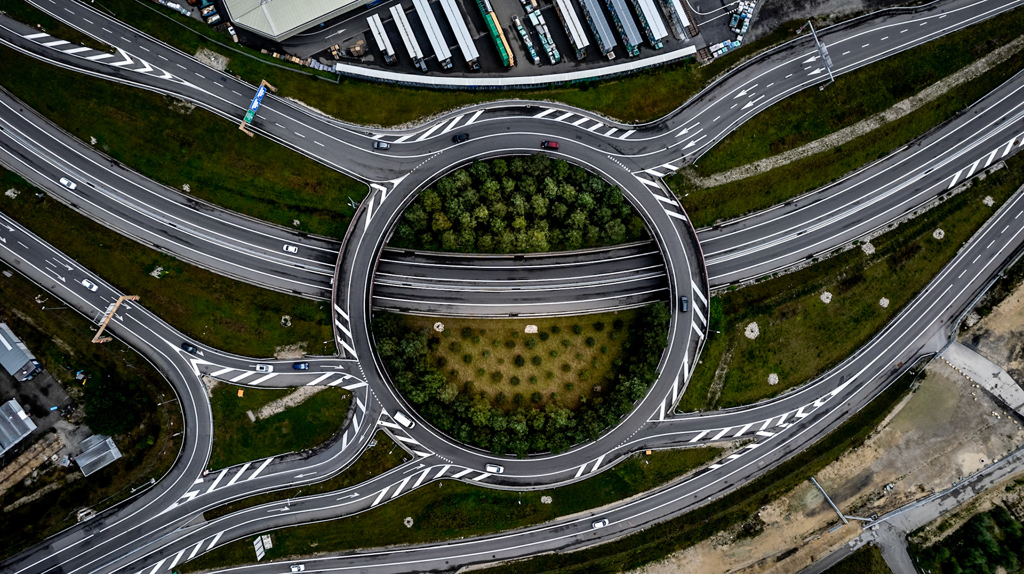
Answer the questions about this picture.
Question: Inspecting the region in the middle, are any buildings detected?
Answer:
No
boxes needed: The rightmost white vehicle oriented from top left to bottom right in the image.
[393,412,413,429]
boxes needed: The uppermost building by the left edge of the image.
[0,313,45,381]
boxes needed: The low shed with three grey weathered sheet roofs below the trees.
[75,433,128,477]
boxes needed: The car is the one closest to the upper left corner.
[57,176,75,189]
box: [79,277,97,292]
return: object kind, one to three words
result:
car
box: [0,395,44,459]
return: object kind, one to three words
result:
building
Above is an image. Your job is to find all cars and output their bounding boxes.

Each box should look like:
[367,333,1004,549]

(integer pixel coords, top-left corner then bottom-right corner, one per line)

[289,565,305,574]
[281,244,299,253]
[485,465,504,475]
[179,343,196,354]
[79,277,97,292]
[327,278,332,285]
[373,140,389,149]
[57,176,75,189]
[451,131,470,142]
[681,296,689,312]
[255,364,273,373]
[592,519,610,531]
[541,139,559,148]
[292,363,308,371]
